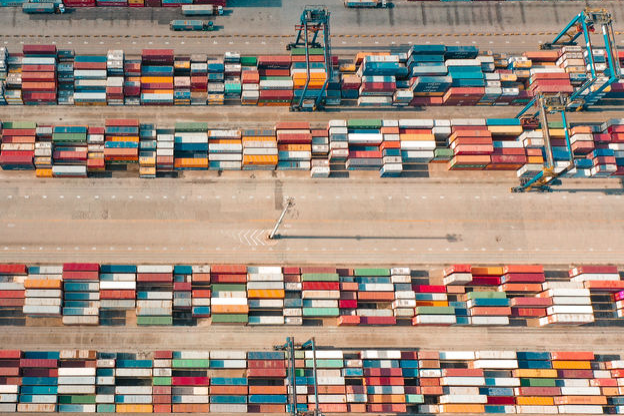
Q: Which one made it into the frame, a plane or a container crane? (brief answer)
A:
container crane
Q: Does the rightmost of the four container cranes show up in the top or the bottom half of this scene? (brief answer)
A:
top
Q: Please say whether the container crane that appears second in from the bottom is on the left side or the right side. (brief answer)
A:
right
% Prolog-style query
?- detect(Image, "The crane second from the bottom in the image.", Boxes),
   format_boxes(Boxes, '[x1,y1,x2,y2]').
[506,94,572,191]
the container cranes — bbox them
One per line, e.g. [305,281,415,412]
[273,334,319,416]
[506,94,572,191]
[287,10,330,111]
[548,12,620,111]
